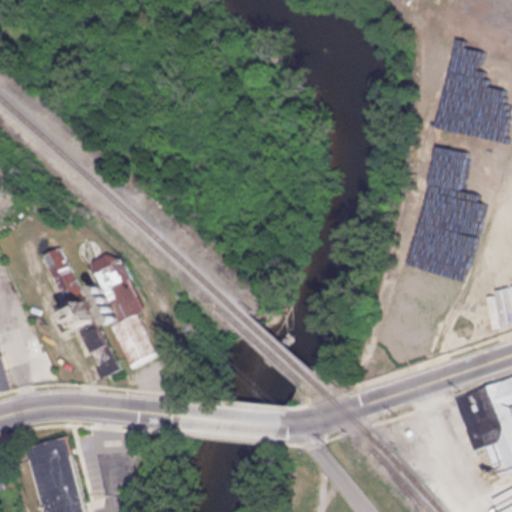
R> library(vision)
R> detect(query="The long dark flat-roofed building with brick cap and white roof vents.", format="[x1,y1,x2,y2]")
[28,436,83,512]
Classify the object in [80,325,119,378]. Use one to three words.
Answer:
house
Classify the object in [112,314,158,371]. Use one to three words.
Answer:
building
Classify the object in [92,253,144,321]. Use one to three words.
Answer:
building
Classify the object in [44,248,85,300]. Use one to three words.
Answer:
house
